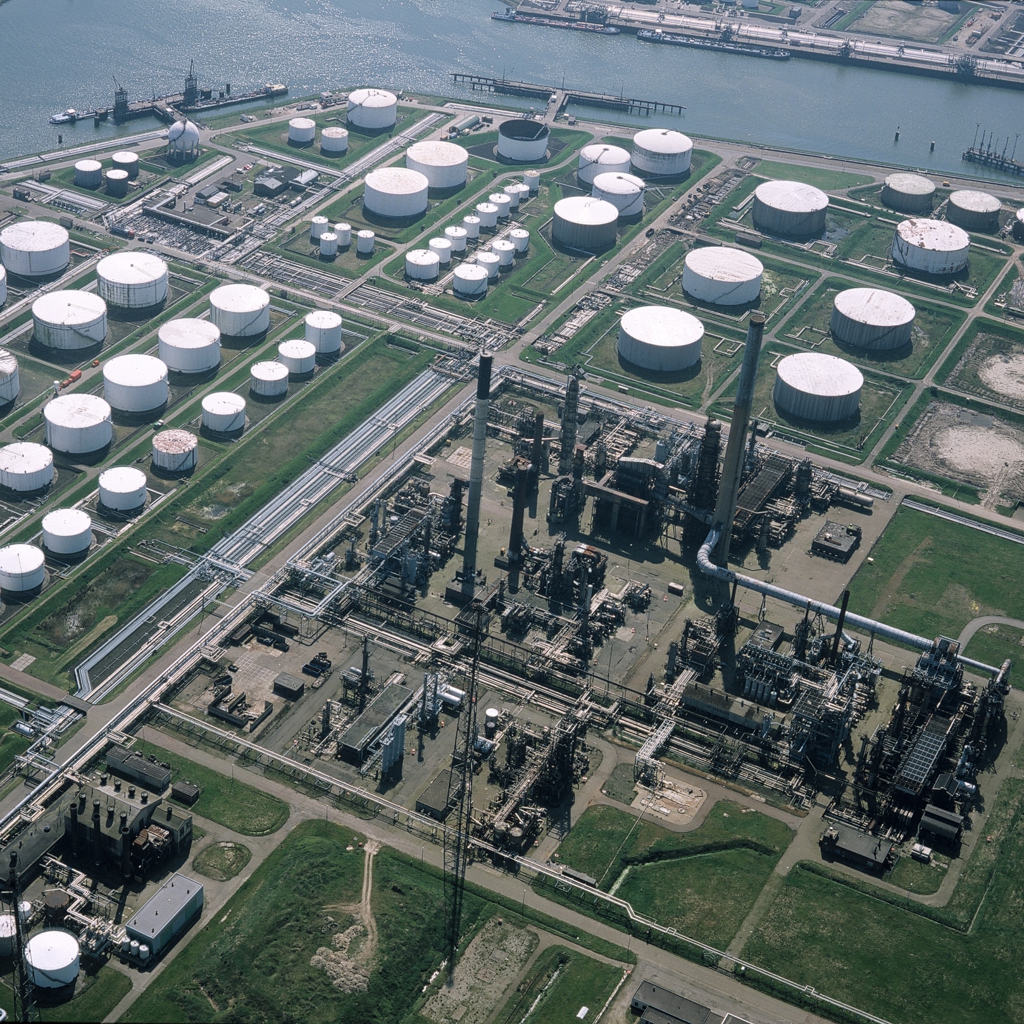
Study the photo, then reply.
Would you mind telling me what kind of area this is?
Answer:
industrial area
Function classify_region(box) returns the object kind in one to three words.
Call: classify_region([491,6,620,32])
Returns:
ship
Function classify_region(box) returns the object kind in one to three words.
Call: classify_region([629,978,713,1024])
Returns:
building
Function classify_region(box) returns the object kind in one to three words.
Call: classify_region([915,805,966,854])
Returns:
shed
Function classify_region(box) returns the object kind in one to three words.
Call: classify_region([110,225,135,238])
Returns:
vehicle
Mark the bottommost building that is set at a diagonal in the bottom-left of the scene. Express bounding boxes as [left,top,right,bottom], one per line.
[124,871,205,956]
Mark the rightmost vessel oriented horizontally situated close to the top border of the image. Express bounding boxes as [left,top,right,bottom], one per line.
[636,25,790,58]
